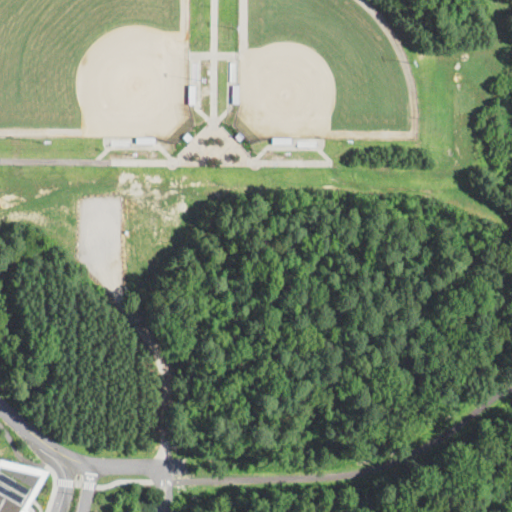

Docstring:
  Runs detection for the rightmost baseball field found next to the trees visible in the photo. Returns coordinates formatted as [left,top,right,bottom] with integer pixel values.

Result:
[236,0,418,141]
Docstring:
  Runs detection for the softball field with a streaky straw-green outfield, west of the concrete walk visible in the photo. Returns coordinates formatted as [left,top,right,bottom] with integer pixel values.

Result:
[0,0,192,140]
